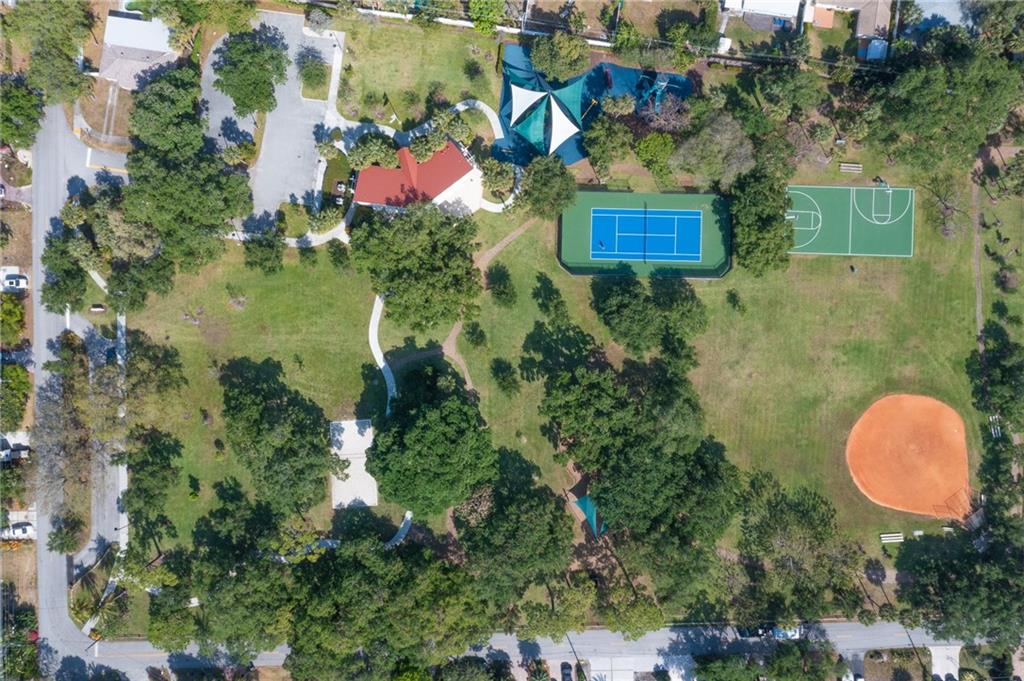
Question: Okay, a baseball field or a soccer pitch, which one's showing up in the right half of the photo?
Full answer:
Looking in the right half of the photo, you will find a baseball field.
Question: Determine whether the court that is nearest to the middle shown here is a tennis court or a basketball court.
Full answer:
From above, the court that is nearest to the middle can be identified as a tennis court.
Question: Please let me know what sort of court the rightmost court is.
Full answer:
I'd identify the rightmost court as a basketball court.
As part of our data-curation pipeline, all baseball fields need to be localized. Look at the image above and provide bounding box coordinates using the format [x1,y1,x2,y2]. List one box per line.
[847,395,972,521]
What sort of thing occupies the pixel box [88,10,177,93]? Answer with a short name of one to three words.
house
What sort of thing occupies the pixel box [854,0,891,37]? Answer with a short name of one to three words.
house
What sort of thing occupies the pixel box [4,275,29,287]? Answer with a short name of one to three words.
vehicle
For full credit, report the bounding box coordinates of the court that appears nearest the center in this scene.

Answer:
[558,190,731,277]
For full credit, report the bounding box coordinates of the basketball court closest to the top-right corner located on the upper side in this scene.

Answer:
[785,184,916,258]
